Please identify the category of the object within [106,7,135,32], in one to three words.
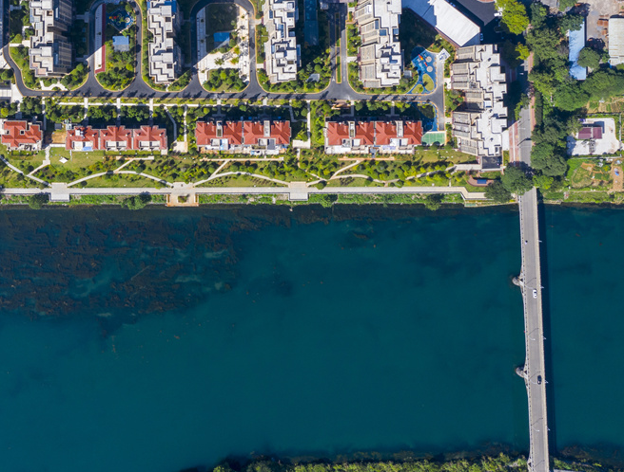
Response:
playground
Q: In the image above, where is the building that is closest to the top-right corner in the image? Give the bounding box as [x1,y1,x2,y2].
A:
[605,17,624,58]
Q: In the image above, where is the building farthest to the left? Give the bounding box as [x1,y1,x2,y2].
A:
[1,120,46,150]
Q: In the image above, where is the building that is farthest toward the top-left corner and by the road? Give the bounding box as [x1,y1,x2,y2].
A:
[29,0,76,80]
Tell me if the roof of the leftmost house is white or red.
red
